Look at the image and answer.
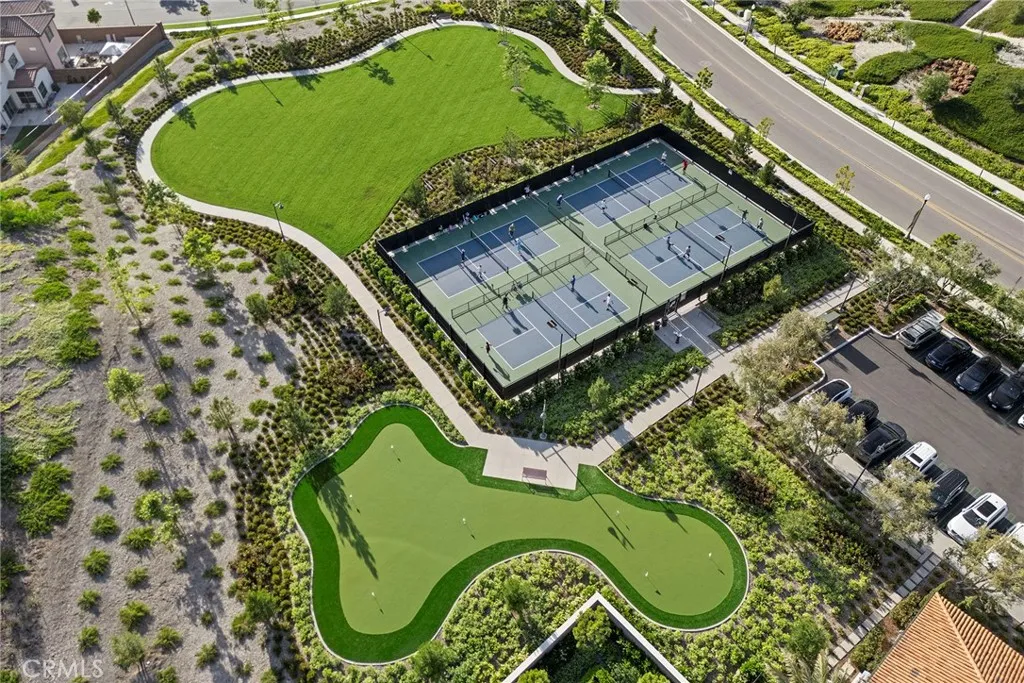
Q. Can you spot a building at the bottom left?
No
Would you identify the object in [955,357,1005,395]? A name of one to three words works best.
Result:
car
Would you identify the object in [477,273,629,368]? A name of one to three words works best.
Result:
sports court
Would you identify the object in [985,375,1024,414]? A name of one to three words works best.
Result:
car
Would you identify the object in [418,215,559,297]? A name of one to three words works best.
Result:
sports court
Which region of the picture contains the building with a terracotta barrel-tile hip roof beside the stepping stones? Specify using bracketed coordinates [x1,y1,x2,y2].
[867,591,1024,683]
